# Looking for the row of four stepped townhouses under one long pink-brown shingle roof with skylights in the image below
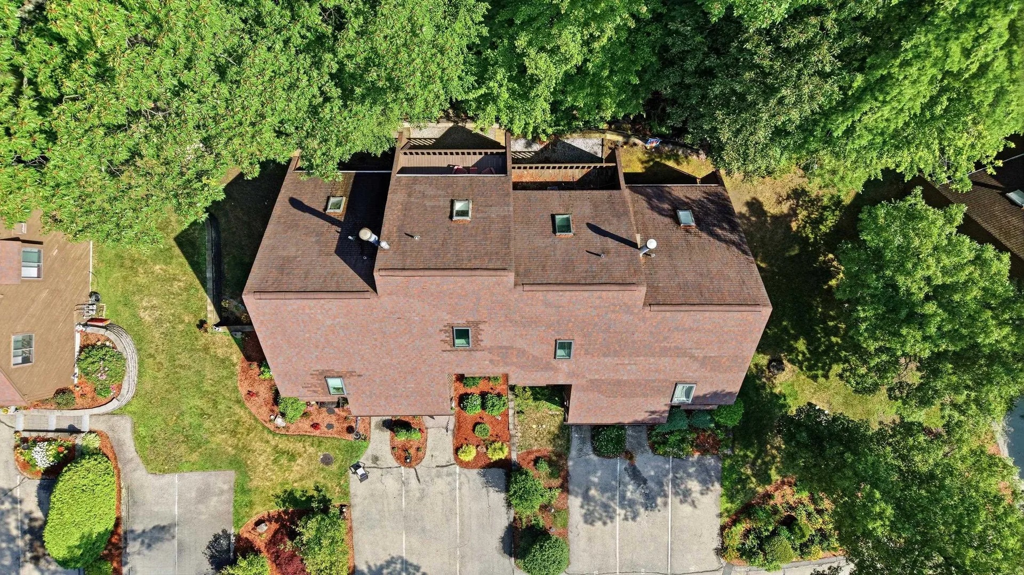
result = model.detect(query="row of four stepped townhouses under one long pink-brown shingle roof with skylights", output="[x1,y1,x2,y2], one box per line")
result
[242,131,770,426]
